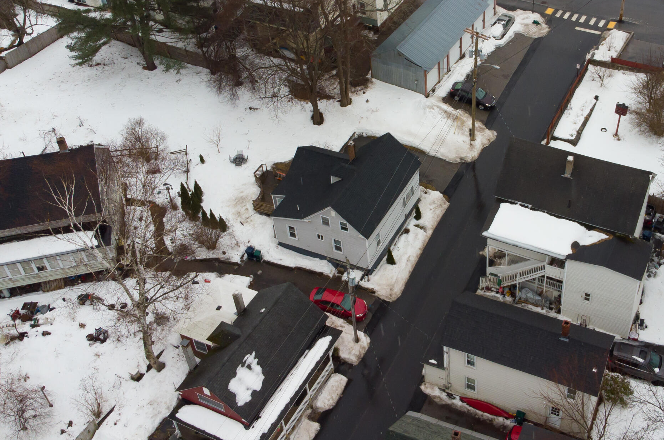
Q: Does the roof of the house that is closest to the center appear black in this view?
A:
Yes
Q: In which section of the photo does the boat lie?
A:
bottom right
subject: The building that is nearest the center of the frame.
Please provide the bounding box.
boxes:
[270,132,422,263]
